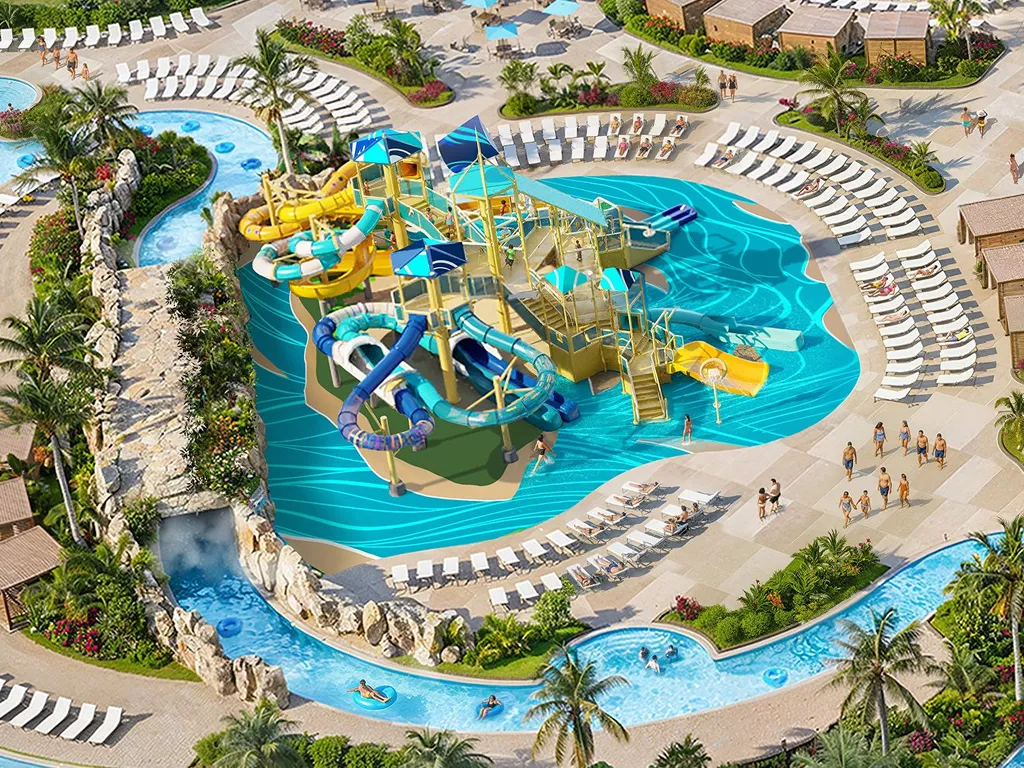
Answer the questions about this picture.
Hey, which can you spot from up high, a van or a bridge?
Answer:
bridge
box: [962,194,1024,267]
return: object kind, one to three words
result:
shed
